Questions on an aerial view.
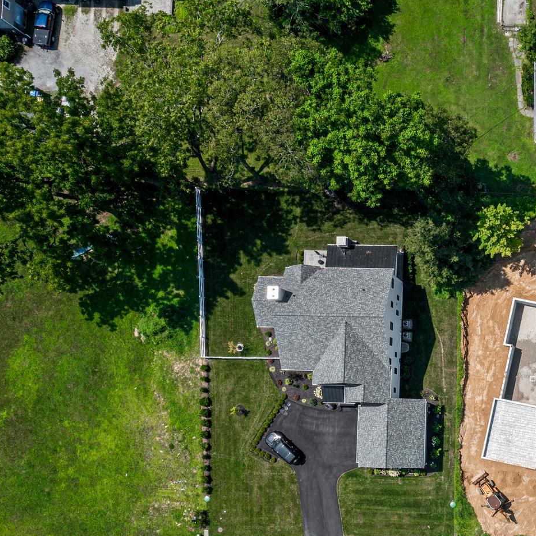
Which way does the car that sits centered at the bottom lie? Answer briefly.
diagonally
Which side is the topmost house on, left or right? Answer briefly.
left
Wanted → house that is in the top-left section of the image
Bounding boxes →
[0,0,38,37]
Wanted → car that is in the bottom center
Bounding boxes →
[265,430,305,467]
